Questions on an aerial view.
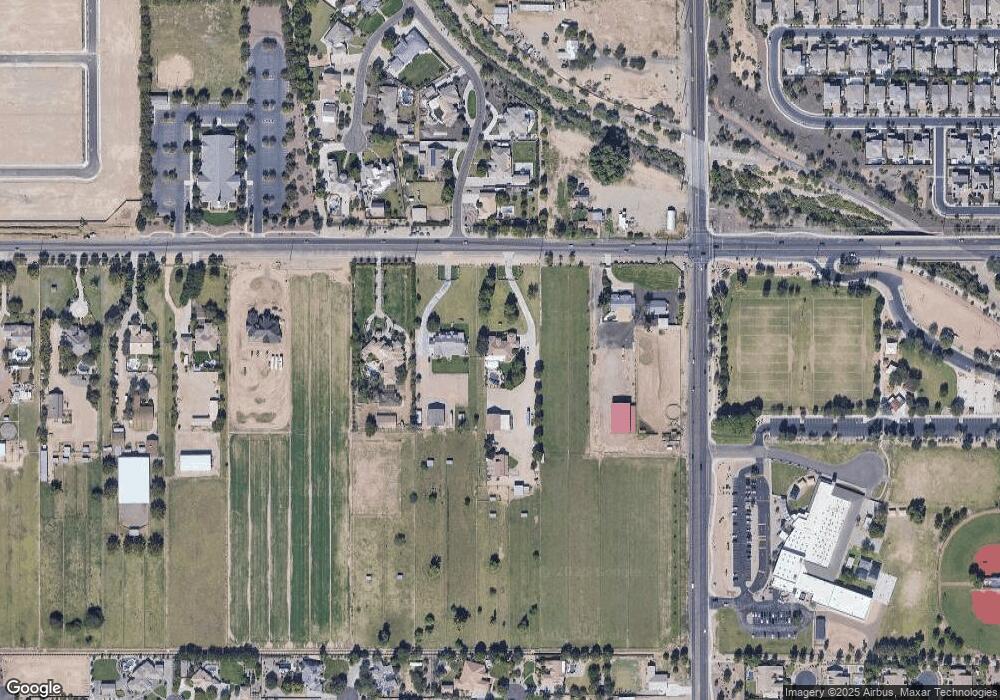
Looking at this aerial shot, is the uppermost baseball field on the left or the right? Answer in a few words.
left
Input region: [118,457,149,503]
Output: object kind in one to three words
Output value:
barn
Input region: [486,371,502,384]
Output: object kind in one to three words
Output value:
swimming pool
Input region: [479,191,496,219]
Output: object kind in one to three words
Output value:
house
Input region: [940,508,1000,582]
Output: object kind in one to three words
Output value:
baseball field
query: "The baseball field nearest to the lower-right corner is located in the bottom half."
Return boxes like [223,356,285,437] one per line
[941,586,1000,656]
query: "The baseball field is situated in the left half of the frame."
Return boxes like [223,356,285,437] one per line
[158,55,193,88]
